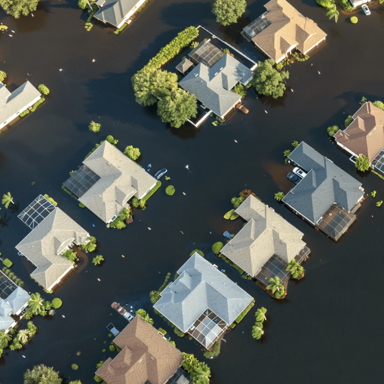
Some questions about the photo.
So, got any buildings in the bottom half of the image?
Yes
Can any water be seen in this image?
Yes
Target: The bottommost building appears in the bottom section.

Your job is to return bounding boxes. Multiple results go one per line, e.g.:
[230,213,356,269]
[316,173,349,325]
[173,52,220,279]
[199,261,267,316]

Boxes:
[95,315,197,384]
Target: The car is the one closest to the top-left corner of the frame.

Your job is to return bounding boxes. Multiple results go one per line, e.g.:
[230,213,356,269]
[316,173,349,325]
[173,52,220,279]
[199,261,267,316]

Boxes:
[154,166,168,180]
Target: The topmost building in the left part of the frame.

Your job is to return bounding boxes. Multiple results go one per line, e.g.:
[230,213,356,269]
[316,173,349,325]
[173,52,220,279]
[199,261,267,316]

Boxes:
[90,0,150,29]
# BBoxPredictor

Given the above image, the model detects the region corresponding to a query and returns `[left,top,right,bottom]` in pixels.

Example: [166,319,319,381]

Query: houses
[62,140,157,224]
[15,195,89,290]
[283,141,370,243]
[95,315,197,384]
[242,0,328,63]
[90,0,150,29]
[220,194,313,294]
[154,253,253,351]
[0,80,42,132]
[178,38,255,120]
[0,269,32,335]
[333,101,384,176]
